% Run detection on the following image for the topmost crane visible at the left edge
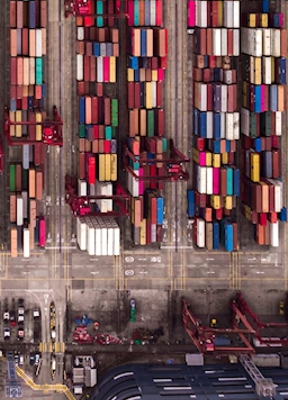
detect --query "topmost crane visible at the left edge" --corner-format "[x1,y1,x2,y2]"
[4,109,63,145]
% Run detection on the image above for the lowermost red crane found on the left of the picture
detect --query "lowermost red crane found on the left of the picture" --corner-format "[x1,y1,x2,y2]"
[67,178,131,218]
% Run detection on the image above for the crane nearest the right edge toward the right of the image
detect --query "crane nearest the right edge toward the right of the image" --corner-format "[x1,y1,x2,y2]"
[237,291,288,343]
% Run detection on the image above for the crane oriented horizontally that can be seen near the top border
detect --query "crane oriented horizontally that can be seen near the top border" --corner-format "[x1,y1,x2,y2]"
[67,0,131,20]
